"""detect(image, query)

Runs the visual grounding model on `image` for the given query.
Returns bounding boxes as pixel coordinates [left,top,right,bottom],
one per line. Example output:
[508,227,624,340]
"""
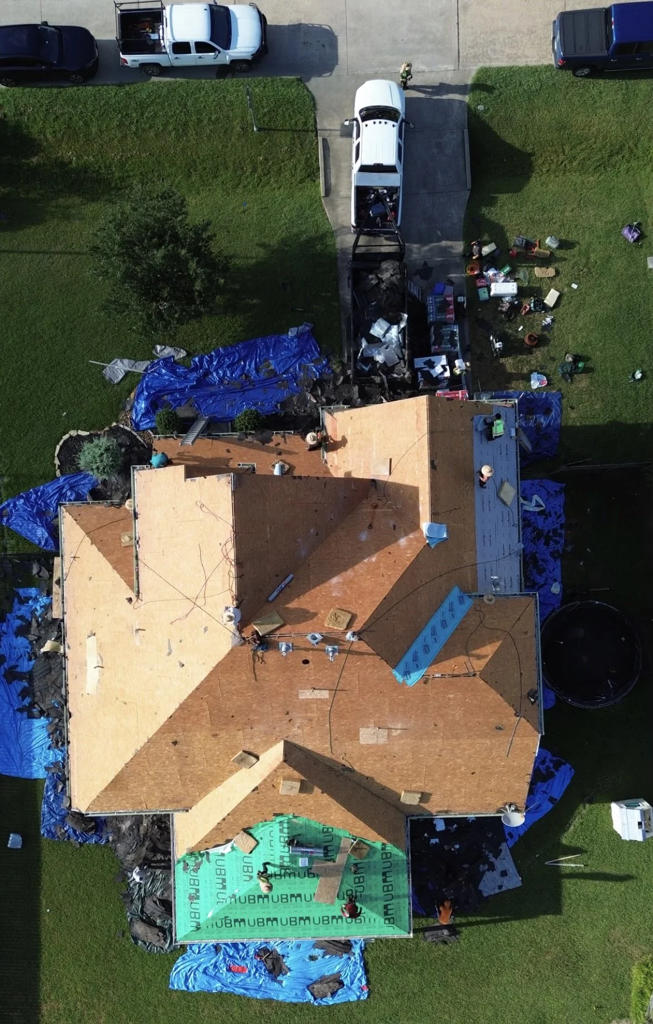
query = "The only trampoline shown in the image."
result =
[542,604,643,705]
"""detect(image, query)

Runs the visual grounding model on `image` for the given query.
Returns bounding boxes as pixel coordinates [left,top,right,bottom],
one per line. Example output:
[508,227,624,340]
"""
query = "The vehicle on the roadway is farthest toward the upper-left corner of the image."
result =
[0,16,101,84]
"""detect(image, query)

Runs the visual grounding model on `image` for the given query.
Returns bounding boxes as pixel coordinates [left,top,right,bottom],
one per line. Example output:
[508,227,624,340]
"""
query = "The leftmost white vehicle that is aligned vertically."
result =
[341,78,417,238]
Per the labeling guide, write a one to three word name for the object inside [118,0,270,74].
truck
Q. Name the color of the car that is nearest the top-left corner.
black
